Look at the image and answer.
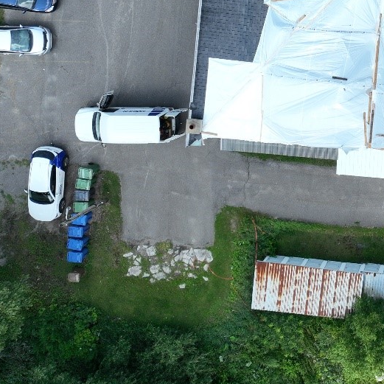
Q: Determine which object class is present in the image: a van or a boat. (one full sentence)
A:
It is a van that can be seen here.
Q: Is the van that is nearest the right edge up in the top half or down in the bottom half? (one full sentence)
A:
It is in the top half that the van that is nearest the right edge appears.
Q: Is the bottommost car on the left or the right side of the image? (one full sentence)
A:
The bottommost car is on the left side of the image.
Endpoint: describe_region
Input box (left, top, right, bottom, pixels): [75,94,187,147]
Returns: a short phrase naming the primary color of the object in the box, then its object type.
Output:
white van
